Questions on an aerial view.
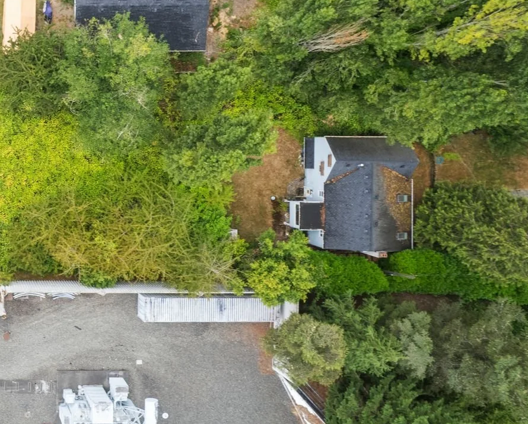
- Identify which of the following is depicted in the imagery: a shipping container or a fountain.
shipping container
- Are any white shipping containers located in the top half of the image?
No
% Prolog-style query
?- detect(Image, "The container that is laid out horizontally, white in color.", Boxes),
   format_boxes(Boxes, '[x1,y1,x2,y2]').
[139,295,274,322]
